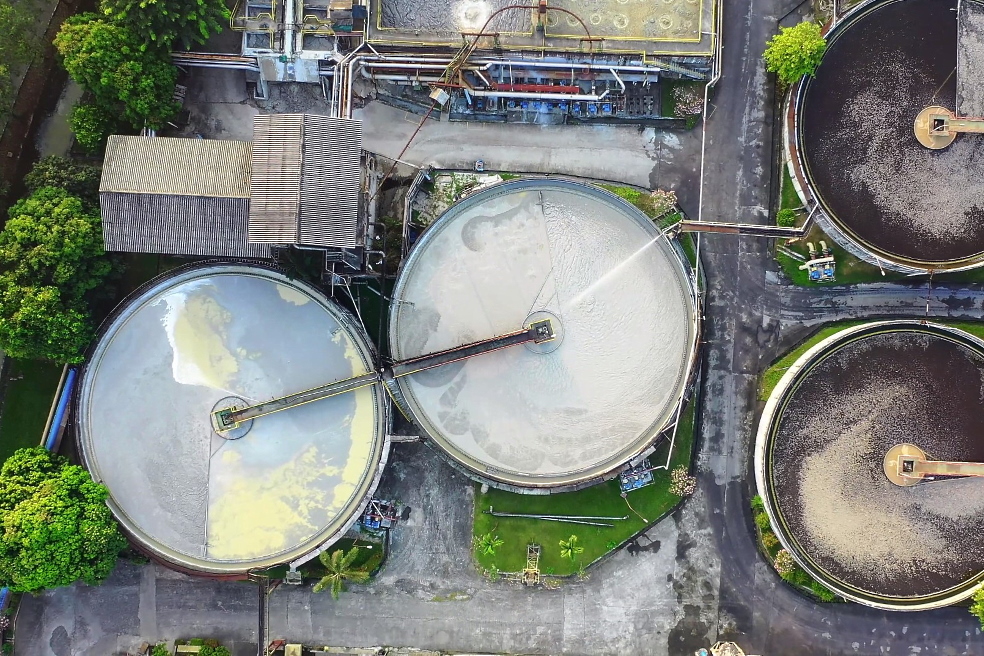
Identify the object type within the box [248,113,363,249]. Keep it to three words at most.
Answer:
shed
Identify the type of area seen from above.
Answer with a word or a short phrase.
industrial area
